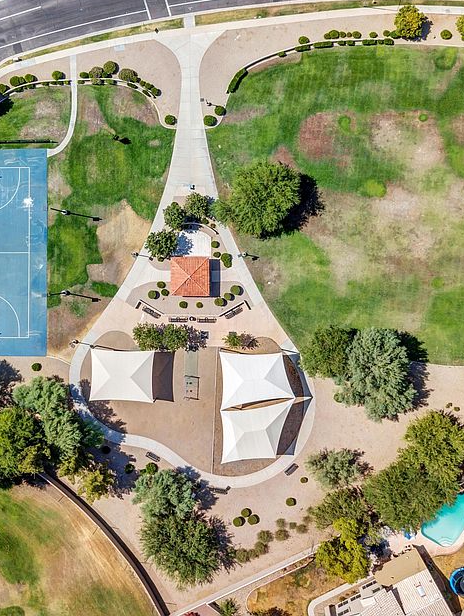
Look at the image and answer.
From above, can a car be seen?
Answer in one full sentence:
No, I find no car anywhere in the image.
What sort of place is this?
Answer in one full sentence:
What you see here is a sports ground.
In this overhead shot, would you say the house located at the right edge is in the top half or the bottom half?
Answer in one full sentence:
The bottom half of the photo is where the house located at the right edge is.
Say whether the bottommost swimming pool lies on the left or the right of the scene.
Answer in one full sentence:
It is on the right.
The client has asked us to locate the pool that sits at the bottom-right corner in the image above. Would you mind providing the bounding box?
[419,489,464,550]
